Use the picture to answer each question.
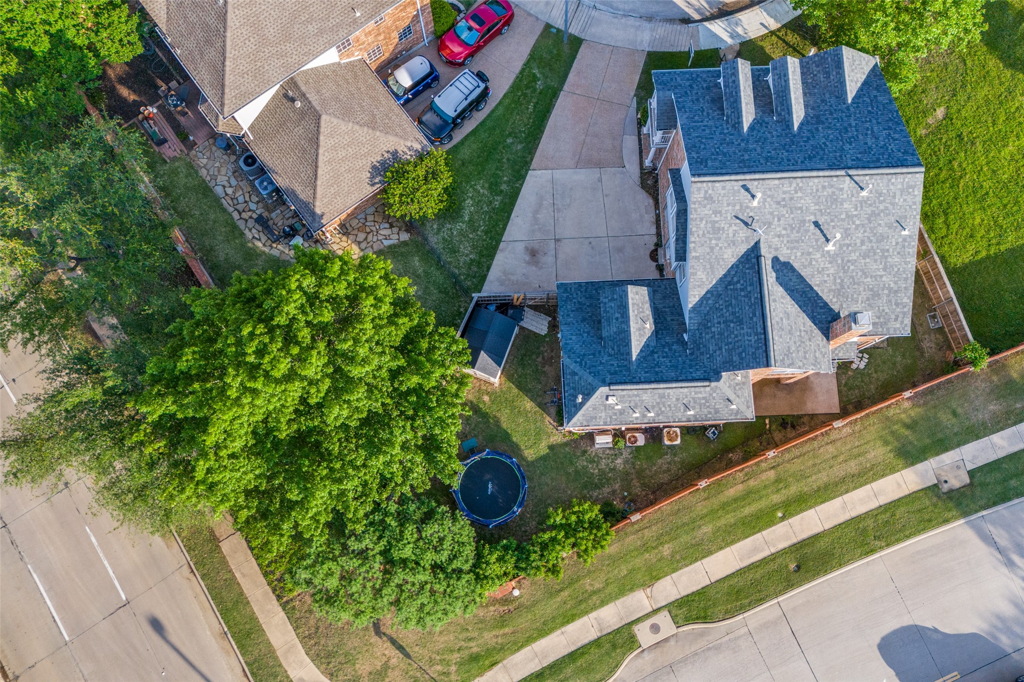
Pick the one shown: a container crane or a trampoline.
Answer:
trampoline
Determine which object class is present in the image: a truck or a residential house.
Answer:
residential house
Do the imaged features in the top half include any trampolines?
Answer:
No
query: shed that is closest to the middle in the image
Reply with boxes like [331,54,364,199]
[461,307,518,381]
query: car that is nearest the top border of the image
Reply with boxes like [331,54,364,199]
[437,0,518,68]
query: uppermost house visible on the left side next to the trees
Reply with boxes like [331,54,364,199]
[139,0,439,240]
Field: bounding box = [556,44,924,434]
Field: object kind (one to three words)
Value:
house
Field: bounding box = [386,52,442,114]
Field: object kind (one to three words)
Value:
car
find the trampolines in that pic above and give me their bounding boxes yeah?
[450,449,529,528]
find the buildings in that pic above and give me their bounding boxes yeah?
[139,0,439,240]
[461,307,518,381]
[556,44,924,434]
